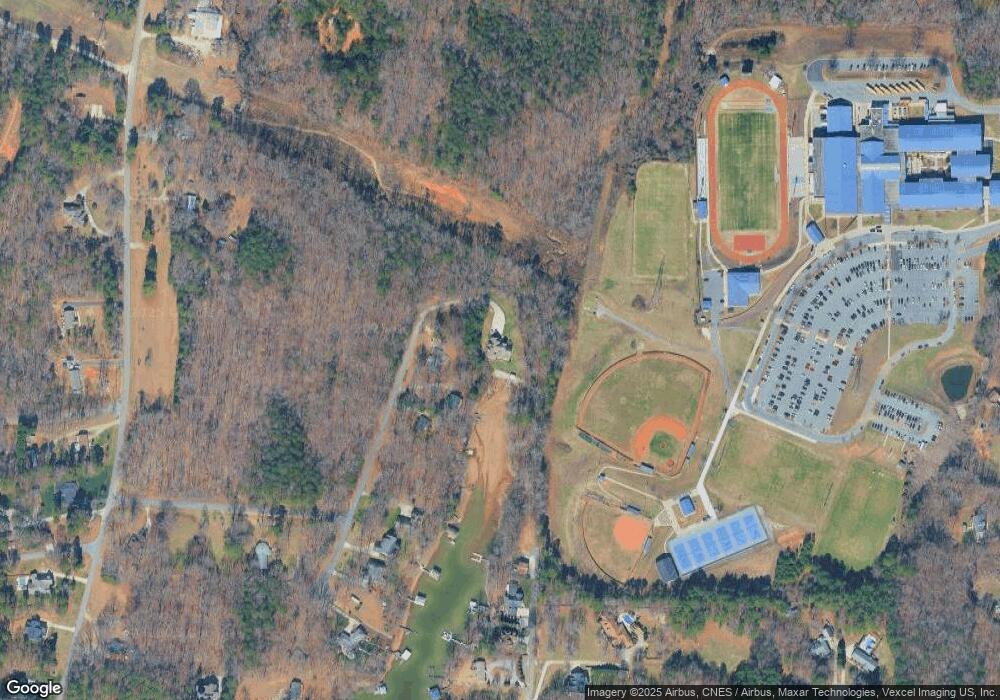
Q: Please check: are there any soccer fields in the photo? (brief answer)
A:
Yes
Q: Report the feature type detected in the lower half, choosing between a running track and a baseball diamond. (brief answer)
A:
baseball diamond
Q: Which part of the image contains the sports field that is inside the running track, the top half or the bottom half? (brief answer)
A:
top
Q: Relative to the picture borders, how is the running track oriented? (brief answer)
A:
vertically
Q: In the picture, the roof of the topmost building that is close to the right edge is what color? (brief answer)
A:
blue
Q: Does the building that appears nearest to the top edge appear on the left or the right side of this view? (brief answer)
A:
left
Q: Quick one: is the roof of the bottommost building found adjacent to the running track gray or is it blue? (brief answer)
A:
blue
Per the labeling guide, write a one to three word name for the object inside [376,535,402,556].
house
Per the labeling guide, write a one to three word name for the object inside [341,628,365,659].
house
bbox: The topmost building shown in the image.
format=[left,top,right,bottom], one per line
[189,2,224,39]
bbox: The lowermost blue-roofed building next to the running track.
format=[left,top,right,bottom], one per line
[728,272,761,307]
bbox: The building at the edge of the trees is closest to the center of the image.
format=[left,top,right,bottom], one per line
[485,332,512,357]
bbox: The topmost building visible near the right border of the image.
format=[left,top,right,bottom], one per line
[813,98,1000,225]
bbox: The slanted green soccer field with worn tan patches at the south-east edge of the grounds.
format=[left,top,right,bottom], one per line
[817,458,904,571]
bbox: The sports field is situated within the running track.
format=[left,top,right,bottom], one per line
[719,113,776,229]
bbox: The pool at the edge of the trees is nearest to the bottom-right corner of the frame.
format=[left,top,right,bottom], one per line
[857,634,880,656]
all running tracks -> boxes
[706,79,788,264]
